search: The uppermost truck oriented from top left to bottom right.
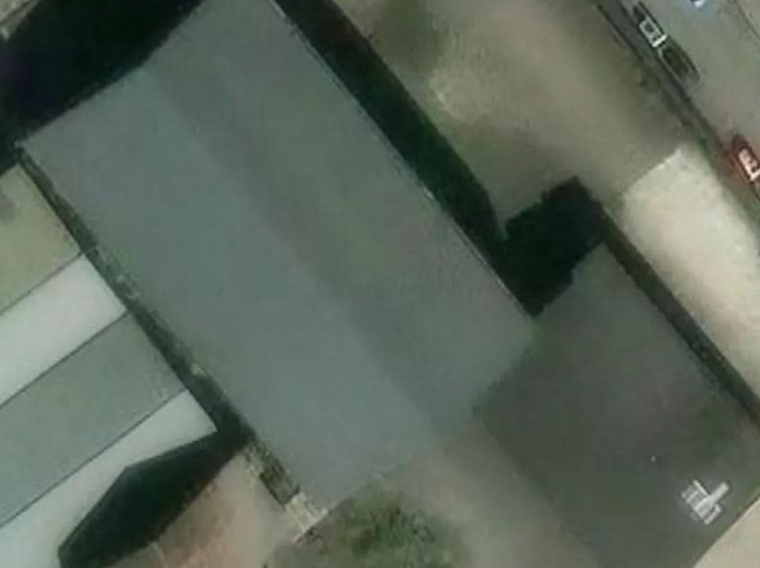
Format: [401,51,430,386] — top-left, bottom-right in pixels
[633,4,677,53]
